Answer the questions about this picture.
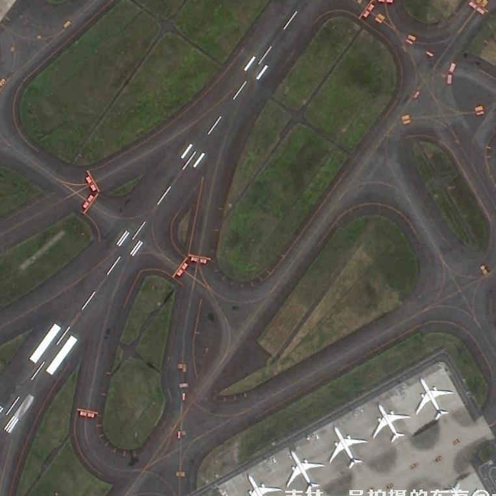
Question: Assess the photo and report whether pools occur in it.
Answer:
No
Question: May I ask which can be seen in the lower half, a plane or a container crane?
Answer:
plane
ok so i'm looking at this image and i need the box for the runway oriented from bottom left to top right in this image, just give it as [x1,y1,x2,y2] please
[0,0,311,433]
